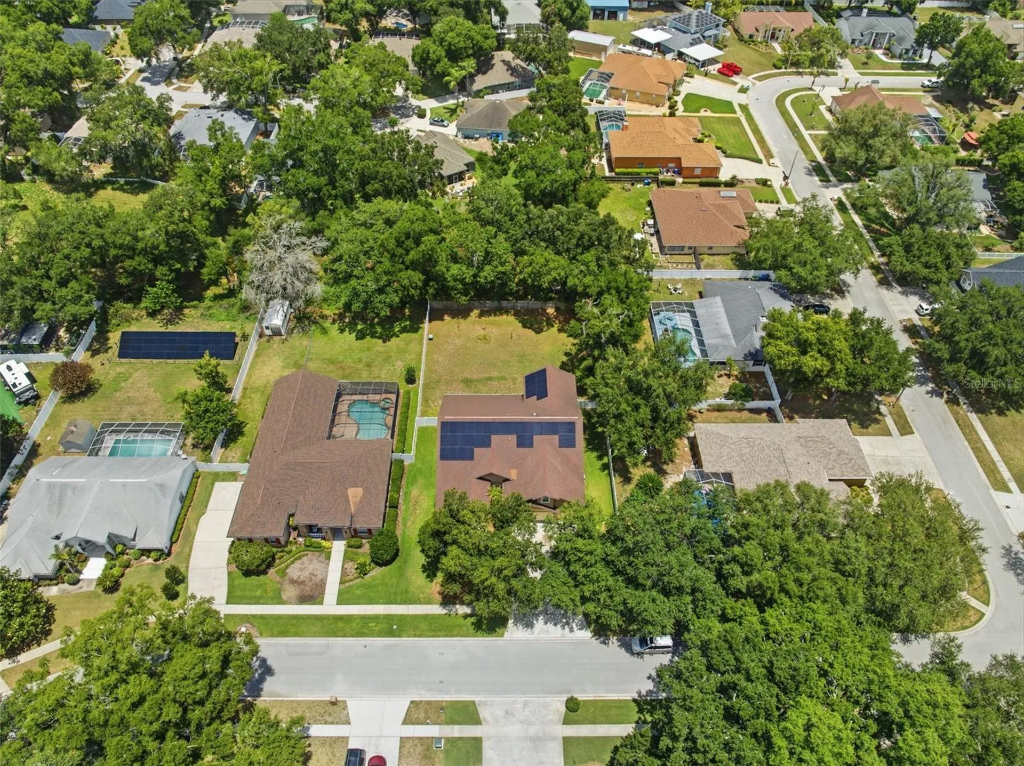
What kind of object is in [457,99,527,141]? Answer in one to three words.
building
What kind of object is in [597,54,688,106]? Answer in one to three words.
house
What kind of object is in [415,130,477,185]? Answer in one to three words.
house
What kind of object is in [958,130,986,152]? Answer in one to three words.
gazebo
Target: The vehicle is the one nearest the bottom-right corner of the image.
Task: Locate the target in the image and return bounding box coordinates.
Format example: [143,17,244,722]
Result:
[630,636,675,657]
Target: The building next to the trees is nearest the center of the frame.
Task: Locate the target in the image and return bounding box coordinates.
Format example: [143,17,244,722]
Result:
[435,365,586,520]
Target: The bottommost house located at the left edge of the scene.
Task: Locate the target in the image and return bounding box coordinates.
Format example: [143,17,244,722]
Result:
[0,450,196,585]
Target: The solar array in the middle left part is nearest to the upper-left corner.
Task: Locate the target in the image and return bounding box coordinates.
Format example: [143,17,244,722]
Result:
[118,333,235,362]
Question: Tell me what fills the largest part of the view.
trees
